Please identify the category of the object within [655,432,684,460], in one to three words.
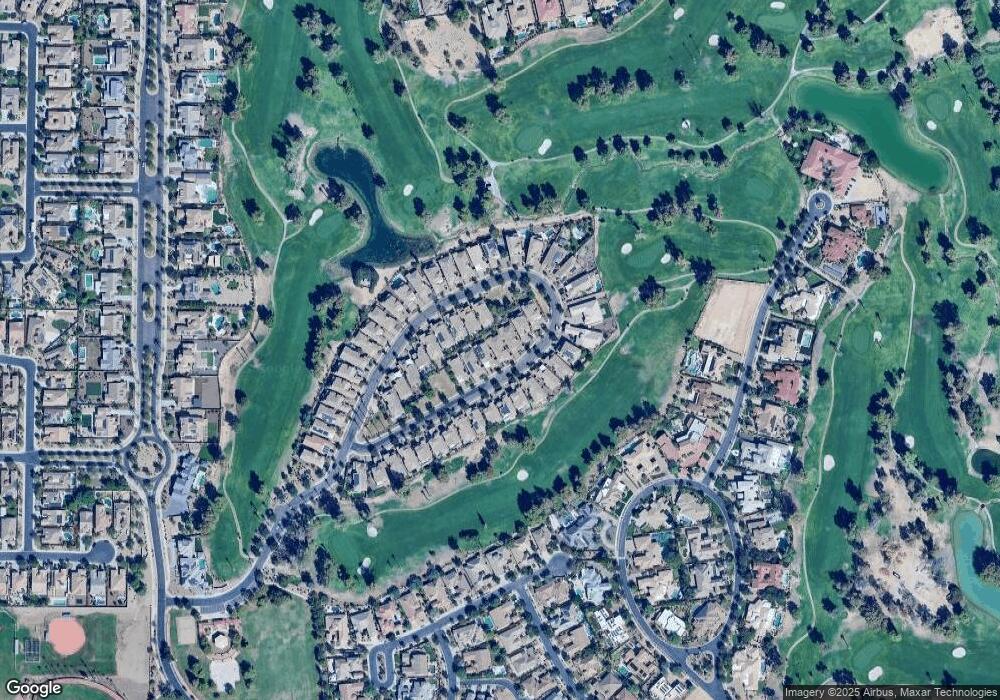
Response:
house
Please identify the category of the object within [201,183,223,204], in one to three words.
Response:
swimming pool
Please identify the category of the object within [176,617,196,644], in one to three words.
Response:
sports court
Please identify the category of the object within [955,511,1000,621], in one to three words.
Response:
pond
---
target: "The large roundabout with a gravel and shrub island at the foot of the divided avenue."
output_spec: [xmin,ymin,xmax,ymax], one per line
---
[122,432,174,485]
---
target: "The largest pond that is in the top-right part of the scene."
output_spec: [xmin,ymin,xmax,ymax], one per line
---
[796,83,951,192]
